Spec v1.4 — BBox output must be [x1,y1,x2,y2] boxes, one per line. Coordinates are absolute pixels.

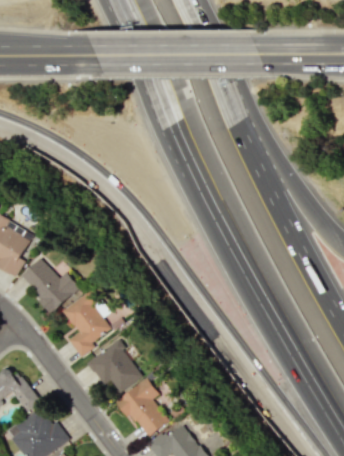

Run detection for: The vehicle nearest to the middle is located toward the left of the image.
[108,175,124,190]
